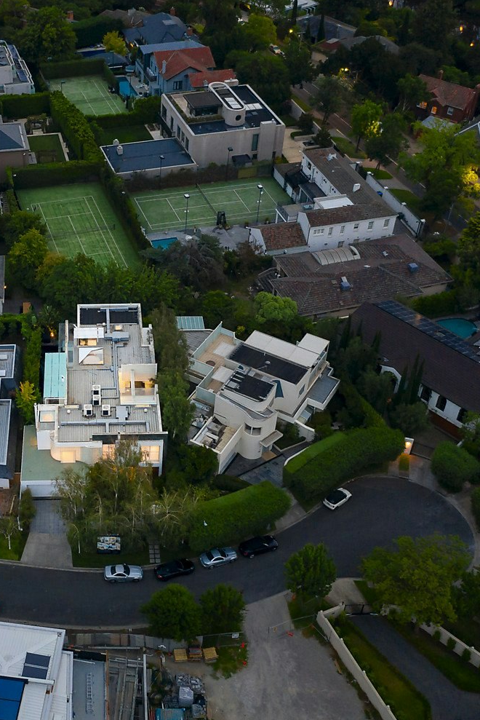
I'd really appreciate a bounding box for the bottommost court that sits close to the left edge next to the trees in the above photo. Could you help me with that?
[22,189,140,278]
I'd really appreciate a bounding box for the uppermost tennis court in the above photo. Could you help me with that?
[52,80,123,117]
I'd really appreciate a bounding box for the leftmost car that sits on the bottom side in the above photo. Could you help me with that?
[104,563,142,582]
